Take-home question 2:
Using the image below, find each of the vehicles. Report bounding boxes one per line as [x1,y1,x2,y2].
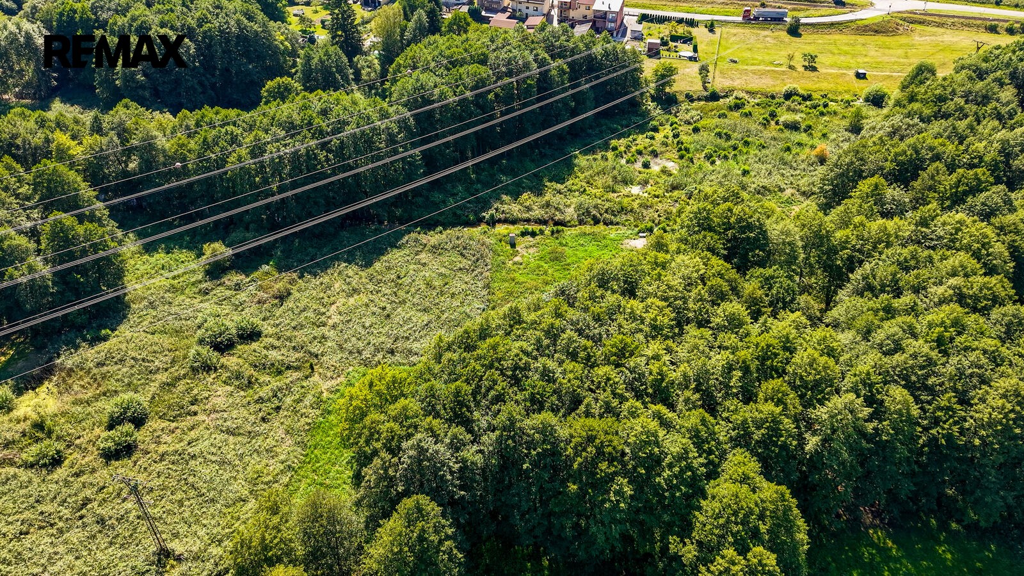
[742,9,790,22]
